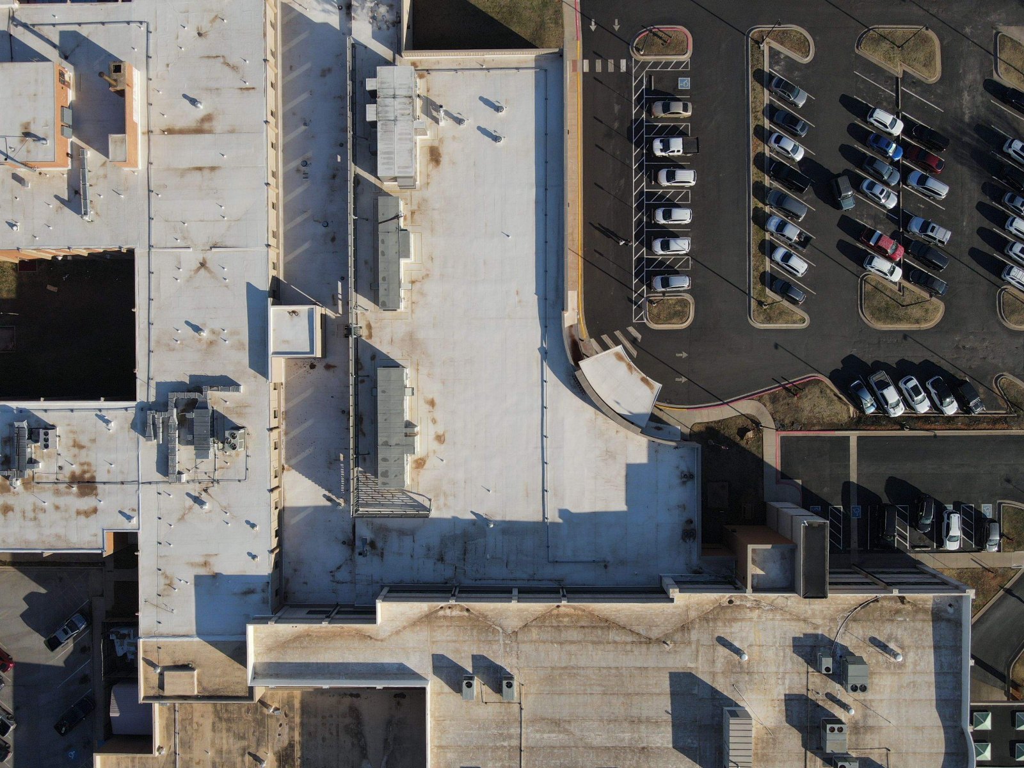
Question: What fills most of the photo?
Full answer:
The scene is dominated by buildings.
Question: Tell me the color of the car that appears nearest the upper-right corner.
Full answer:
The car that appears nearest the upper-right corner looks black in the image.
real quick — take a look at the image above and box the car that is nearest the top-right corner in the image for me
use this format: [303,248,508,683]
[998,84,1024,116]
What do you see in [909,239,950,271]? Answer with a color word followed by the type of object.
black car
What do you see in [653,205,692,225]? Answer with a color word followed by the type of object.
white car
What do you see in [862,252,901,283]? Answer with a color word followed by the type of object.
white car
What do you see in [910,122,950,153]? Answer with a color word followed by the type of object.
black car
